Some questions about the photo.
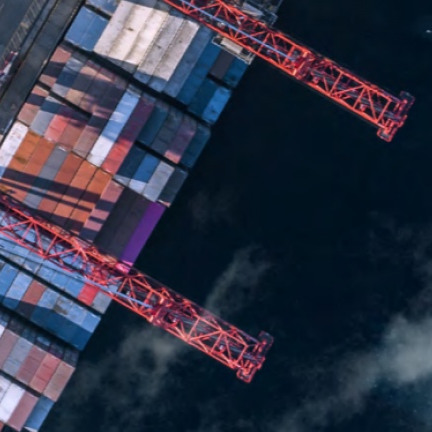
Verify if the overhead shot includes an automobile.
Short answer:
No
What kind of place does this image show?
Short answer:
port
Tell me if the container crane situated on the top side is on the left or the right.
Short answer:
right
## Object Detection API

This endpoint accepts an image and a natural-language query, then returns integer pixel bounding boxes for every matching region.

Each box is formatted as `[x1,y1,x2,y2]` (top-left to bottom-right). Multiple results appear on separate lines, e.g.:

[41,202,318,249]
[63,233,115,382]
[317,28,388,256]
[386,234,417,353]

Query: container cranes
[156,0,408,139]
[0,179,274,377]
